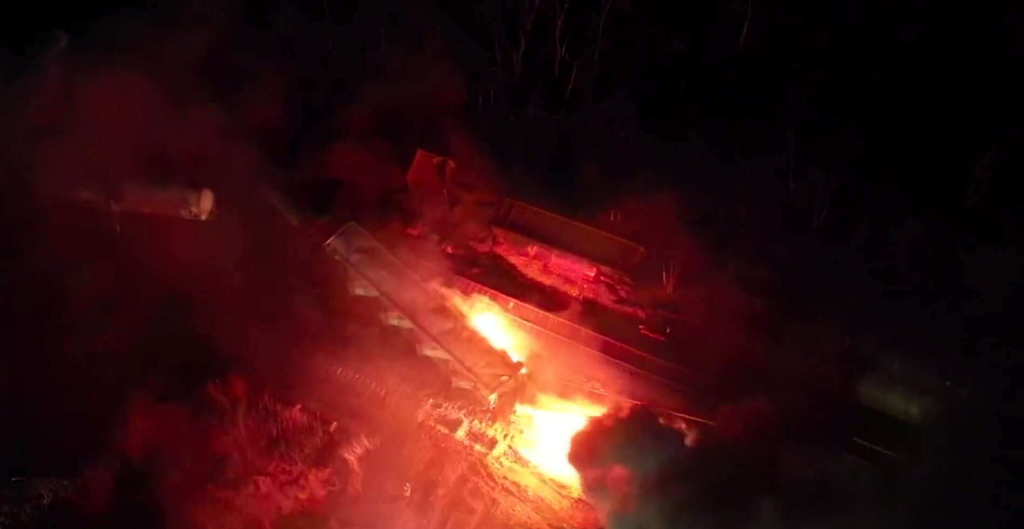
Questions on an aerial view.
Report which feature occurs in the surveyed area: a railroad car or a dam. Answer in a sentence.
This aerial view contains a railroad car.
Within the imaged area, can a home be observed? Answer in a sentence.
No, I find no home anywhere in the image.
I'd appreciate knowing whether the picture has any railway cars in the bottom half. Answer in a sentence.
Yes, a railway car appears in the bottom half.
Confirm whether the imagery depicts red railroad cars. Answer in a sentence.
Yes, a red railroad car appears in the view.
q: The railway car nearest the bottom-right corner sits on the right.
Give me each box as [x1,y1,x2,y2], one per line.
[828,360,991,485]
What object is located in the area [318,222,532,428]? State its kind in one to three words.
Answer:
rail car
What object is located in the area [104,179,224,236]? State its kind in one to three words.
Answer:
rail car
